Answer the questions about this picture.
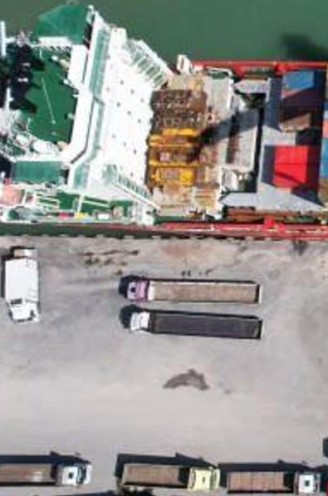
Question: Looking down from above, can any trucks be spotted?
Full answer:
Yes, a truck appears in the view.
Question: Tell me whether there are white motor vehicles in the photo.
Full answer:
Yes, a white motor vehicle appears in the view.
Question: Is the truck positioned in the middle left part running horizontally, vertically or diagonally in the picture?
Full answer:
In this picture, the truck positioned in the middle left part is oriented vertically.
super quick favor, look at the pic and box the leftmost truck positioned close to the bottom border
[0,459,104,487]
